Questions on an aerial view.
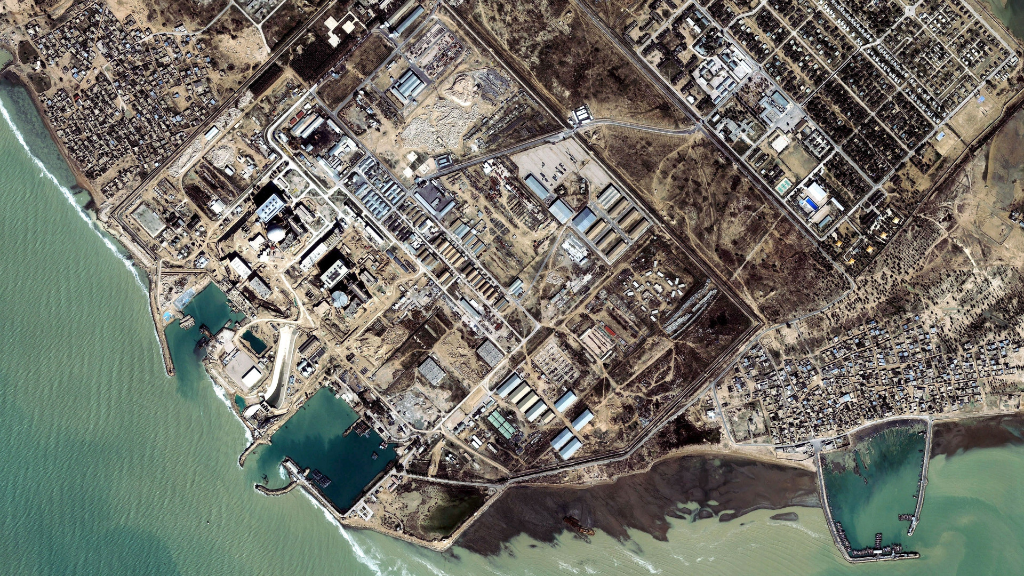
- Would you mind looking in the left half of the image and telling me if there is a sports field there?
No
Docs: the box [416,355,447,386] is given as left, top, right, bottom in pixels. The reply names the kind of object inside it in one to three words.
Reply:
building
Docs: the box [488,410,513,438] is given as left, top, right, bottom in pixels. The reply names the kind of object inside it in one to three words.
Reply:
greenhouse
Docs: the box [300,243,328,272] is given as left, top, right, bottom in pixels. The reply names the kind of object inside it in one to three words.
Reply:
building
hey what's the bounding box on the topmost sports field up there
[950,97,997,141]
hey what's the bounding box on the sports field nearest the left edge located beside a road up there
[779,141,820,180]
